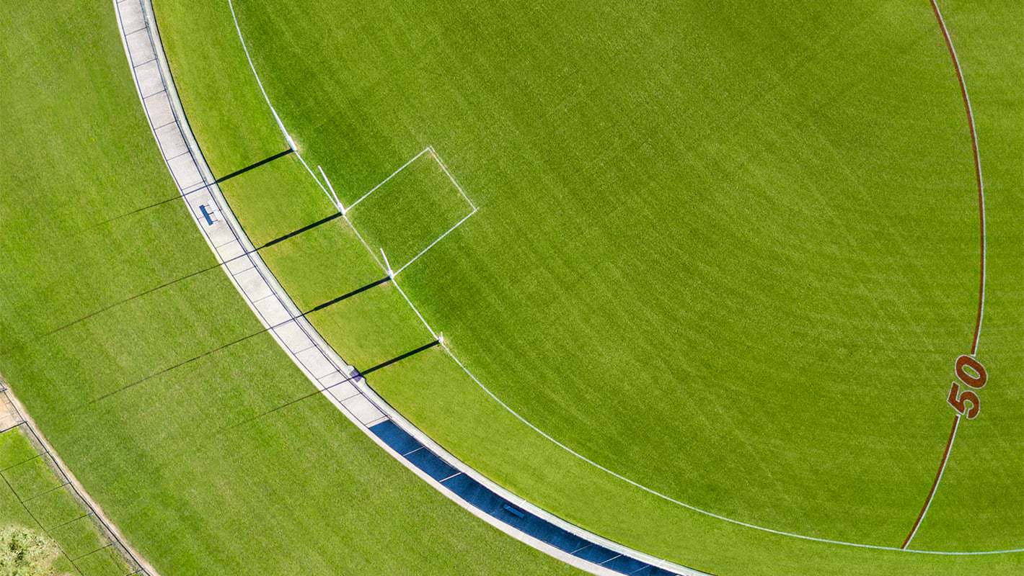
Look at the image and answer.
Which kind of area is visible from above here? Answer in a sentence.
The area seen from above is a sports ground.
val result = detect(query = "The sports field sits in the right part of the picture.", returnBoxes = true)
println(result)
[229,0,1024,554]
